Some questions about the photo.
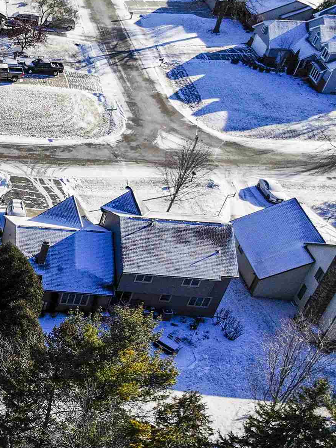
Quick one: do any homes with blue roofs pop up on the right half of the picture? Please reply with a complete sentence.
Yes, there is a home with a blue roof on the right half of the picture.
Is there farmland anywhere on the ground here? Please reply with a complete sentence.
No, no farmland is visible.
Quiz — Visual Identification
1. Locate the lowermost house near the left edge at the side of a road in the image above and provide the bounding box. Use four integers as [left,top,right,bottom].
[2,179,126,313]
